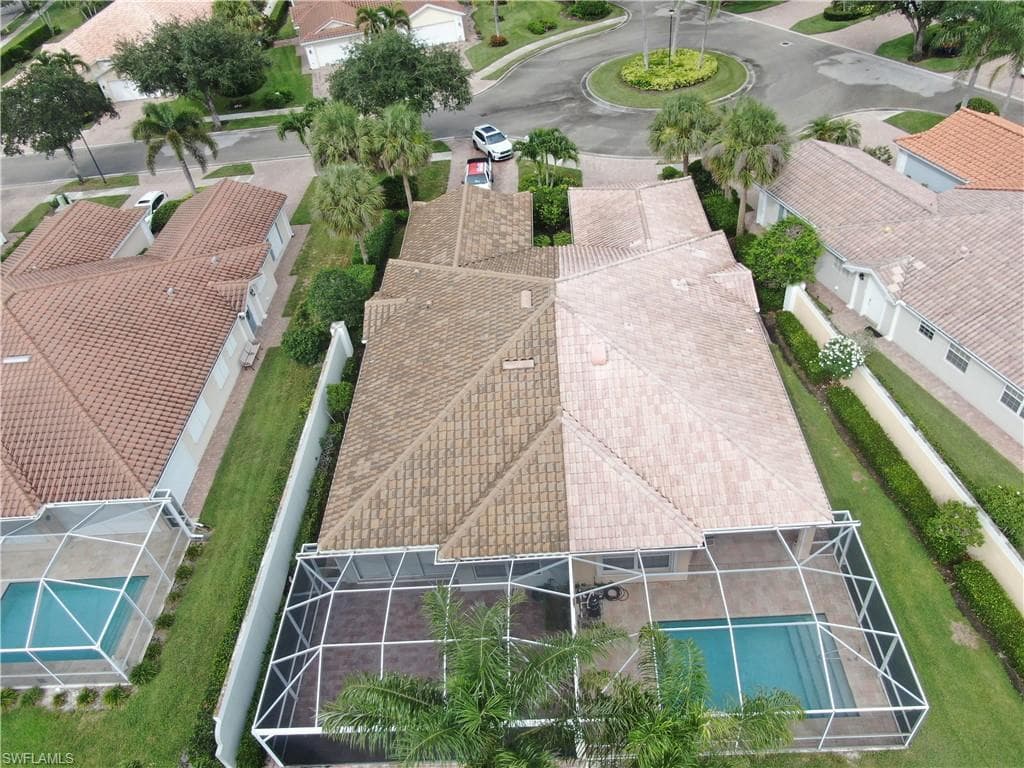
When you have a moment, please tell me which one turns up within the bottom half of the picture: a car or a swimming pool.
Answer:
swimming pool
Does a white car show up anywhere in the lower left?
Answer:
No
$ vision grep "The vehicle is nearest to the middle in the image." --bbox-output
[463,161,493,192]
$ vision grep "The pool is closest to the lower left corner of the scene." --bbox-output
[0,570,157,669]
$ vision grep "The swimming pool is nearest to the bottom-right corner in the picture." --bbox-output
[650,604,864,723]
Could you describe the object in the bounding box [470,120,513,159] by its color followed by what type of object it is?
white car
